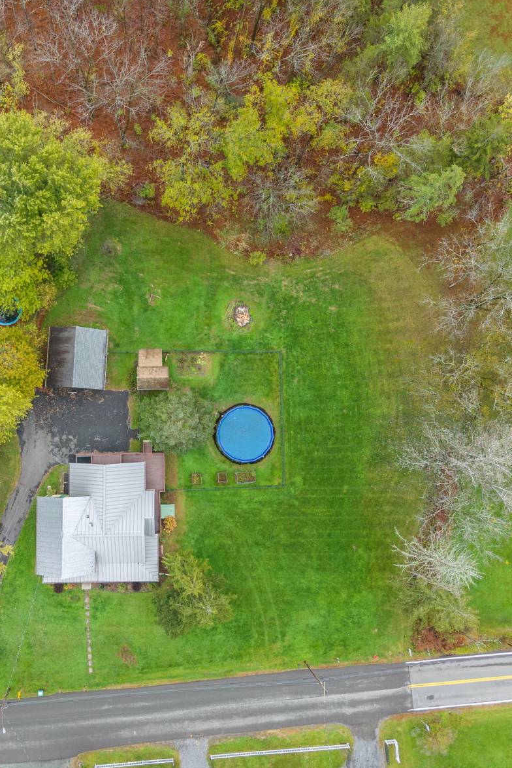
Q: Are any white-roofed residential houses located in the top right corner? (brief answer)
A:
No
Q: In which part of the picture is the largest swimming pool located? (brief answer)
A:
center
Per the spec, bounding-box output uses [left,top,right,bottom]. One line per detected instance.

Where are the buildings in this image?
[37,461,159,591]
[46,325,110,391]
[137,349,168,390]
